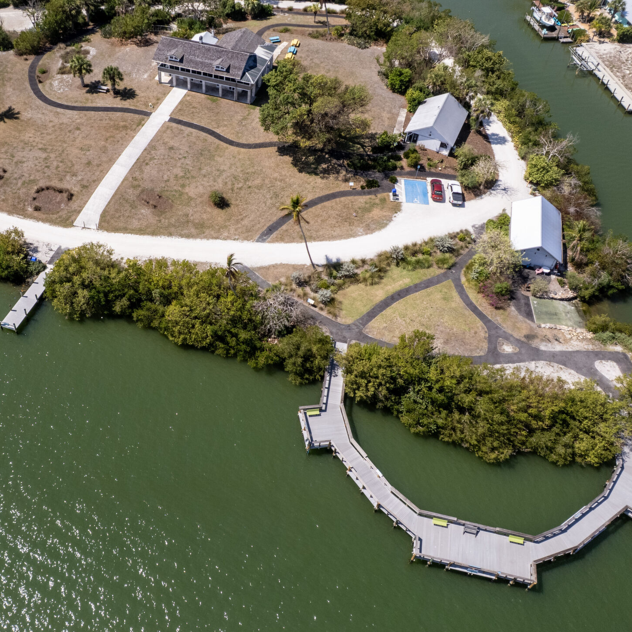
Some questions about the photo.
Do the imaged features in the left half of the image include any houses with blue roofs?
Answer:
No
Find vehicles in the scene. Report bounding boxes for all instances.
[430,180,444,200]
[448,180,465,204]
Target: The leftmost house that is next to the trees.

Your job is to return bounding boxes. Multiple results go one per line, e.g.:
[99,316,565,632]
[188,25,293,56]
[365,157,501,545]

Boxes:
[151,27,283,106]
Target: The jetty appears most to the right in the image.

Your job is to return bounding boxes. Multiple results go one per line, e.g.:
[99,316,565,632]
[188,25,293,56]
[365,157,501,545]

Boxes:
[574,46,632,114]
